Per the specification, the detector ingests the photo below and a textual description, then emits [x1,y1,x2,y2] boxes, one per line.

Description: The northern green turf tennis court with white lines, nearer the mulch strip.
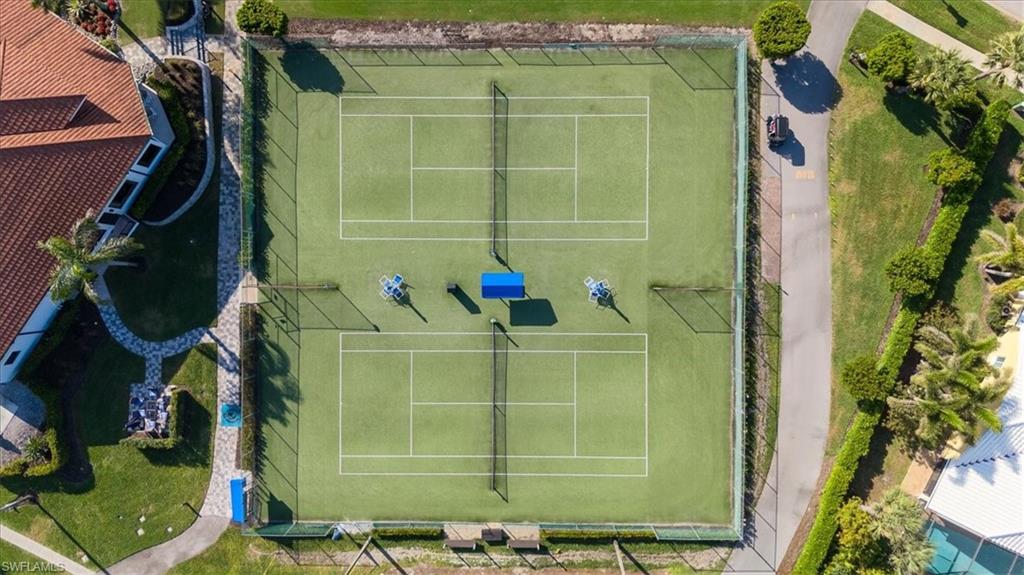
[257,48,735,287]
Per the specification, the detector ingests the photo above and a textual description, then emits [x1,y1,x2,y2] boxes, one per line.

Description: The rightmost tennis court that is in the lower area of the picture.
[257,287,735,526]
